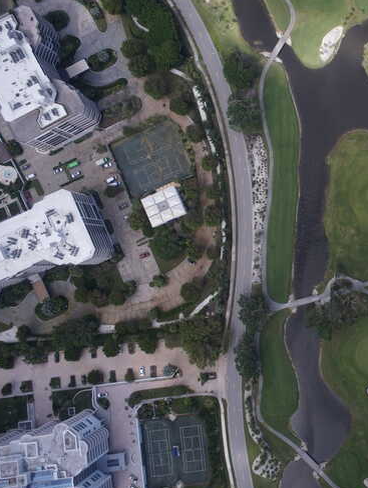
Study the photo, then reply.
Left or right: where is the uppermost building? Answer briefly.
left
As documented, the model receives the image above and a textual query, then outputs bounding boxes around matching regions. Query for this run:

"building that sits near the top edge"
[0,5,102,150]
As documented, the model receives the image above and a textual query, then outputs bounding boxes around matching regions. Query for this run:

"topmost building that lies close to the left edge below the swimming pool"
[0,188,112,291]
